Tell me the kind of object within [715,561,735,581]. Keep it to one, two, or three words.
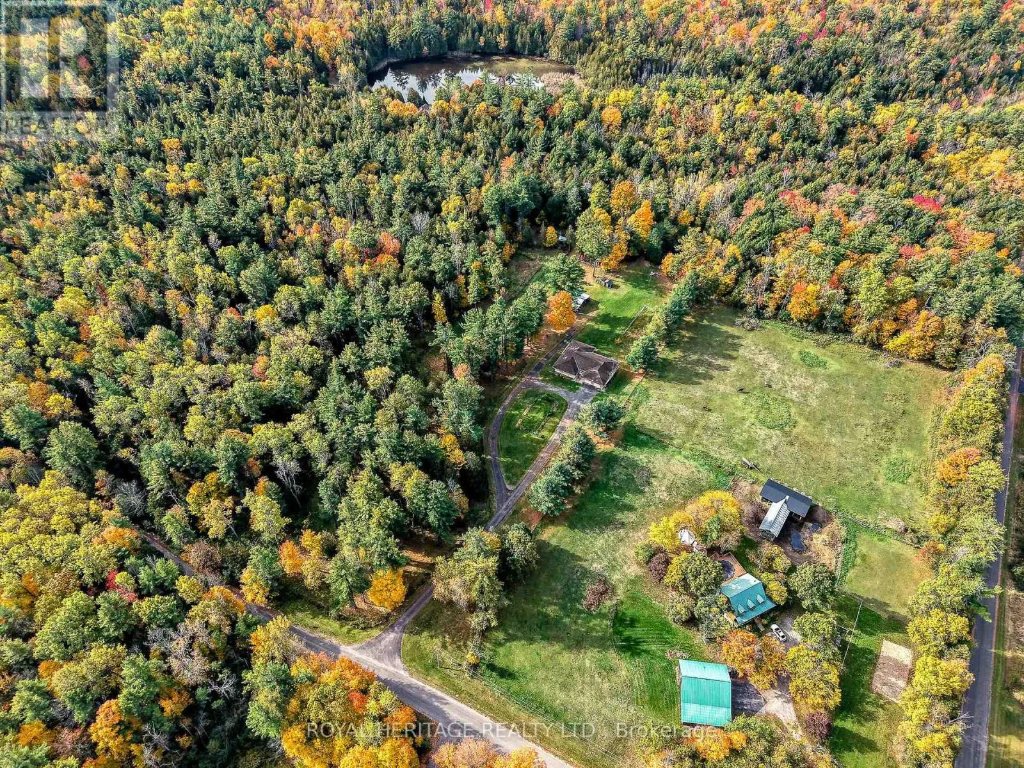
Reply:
swimming pool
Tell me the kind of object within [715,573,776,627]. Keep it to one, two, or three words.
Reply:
house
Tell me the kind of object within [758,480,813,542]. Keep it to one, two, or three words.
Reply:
building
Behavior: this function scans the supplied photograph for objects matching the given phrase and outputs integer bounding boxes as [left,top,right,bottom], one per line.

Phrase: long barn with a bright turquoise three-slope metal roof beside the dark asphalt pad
[678,659,732,729]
